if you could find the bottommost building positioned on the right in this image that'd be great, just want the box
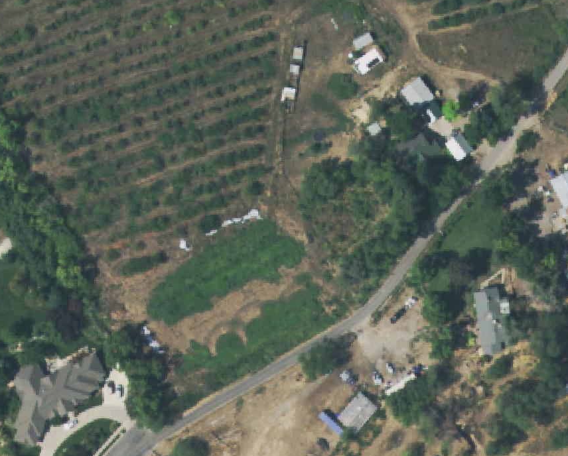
[339,392,377,432]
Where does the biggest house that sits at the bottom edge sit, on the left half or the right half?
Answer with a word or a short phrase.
left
